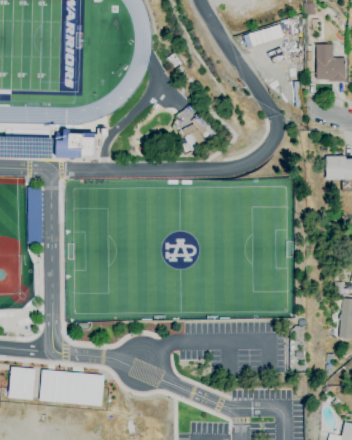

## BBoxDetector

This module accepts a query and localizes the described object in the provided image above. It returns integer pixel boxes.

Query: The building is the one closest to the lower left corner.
[8,367,36,402]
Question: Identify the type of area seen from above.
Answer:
sports ground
